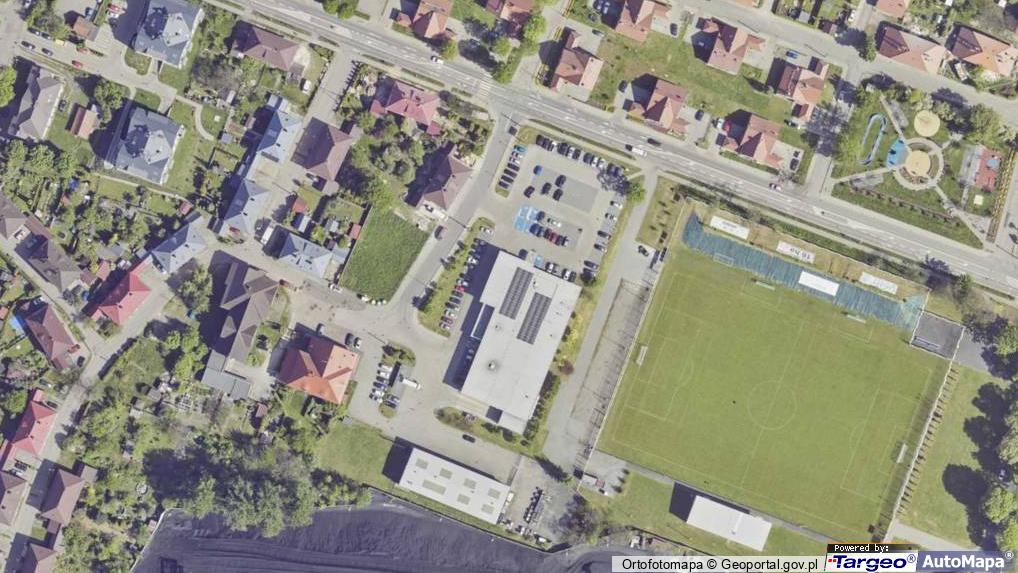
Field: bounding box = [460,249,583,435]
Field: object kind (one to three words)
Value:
building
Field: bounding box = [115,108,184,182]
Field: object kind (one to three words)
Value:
house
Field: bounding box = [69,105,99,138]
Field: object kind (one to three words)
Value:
shed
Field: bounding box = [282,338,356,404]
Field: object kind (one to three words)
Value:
house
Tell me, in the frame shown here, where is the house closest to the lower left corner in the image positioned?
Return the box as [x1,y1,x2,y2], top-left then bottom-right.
[19,539,63,573]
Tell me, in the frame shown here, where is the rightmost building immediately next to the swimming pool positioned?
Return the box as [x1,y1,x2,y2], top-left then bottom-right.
[25,304,79,371]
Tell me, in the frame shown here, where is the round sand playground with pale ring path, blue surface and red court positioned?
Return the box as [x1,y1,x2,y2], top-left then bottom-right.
[831,96,1000,249]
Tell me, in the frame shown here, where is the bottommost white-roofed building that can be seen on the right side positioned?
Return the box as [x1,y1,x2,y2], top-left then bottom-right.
[686,494,772,552]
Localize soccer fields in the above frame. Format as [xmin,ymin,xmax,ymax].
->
[597,204,950,543]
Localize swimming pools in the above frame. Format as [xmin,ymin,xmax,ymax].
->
[7,314,25,333]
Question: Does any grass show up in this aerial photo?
Yes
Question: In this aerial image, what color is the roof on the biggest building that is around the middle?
white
